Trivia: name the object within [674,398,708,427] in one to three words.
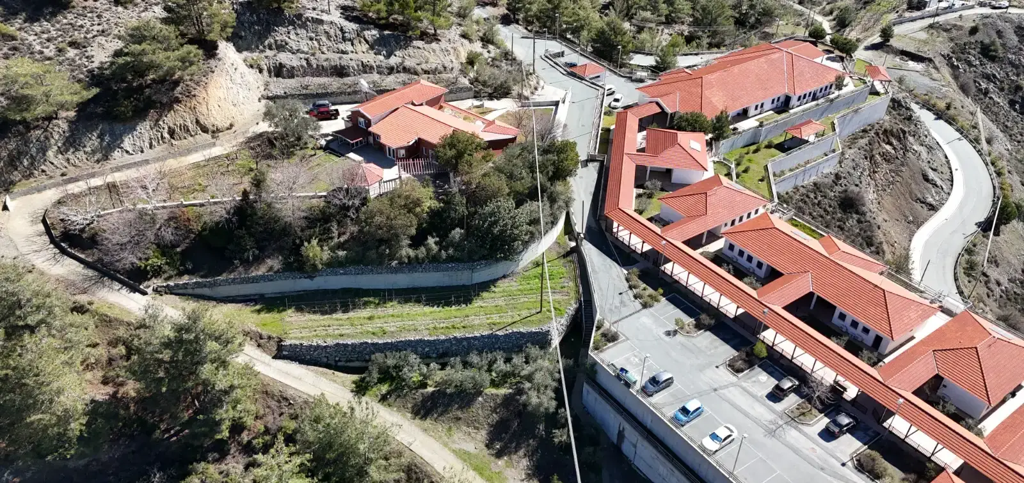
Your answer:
car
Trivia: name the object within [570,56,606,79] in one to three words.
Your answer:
building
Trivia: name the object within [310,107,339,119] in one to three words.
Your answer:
vehicle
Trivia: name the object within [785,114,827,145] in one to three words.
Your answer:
building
